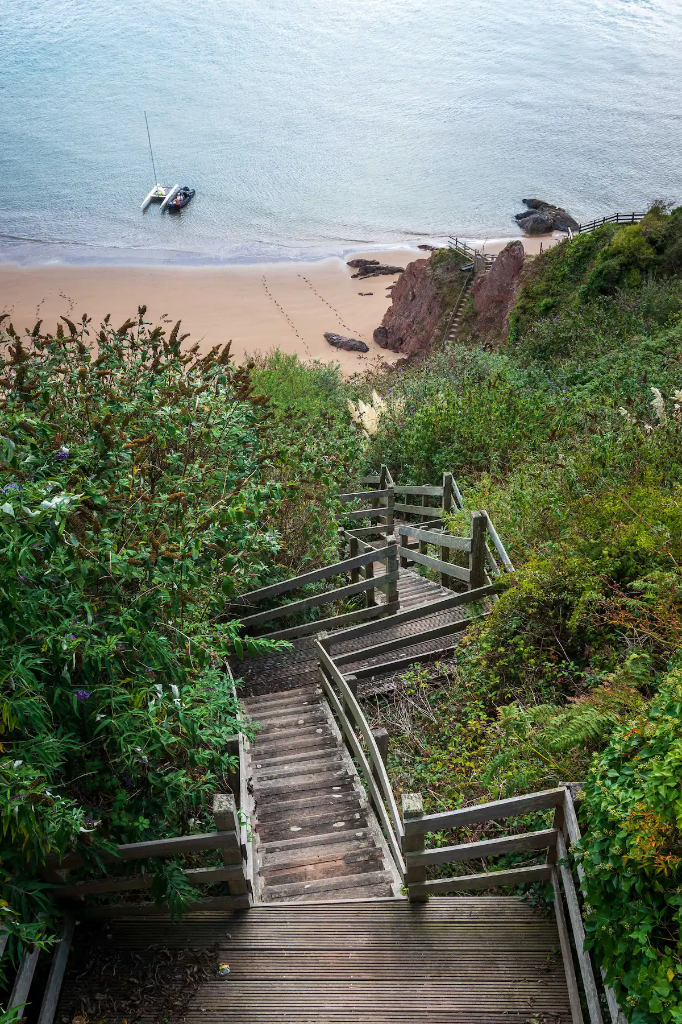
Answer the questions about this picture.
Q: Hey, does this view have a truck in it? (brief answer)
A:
No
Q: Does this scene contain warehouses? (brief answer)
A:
No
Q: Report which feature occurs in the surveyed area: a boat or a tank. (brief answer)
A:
boat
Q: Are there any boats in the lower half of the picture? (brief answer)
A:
No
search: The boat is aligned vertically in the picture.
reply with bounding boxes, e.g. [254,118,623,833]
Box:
[140,106,179,211]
